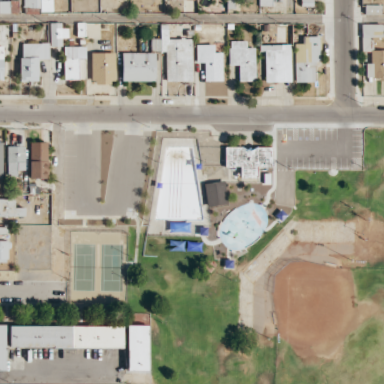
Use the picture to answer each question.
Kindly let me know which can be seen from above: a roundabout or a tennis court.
tennis court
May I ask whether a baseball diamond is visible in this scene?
Yes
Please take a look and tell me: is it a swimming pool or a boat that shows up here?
swimming pool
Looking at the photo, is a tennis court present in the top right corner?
No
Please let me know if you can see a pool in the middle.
Yes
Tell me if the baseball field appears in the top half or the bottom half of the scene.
bottom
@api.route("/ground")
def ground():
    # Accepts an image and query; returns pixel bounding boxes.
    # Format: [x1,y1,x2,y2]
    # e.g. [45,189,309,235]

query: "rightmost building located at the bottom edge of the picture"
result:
[128,326,151,371]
